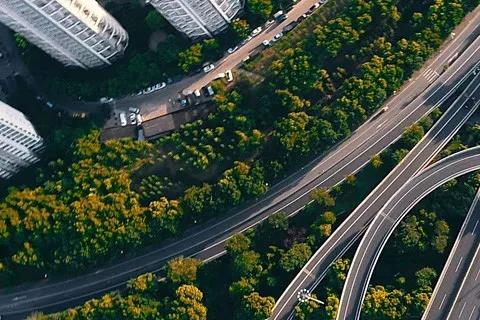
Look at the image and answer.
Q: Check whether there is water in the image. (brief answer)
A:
No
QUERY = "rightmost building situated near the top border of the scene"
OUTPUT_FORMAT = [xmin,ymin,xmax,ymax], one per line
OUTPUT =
[146,0,246,42]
